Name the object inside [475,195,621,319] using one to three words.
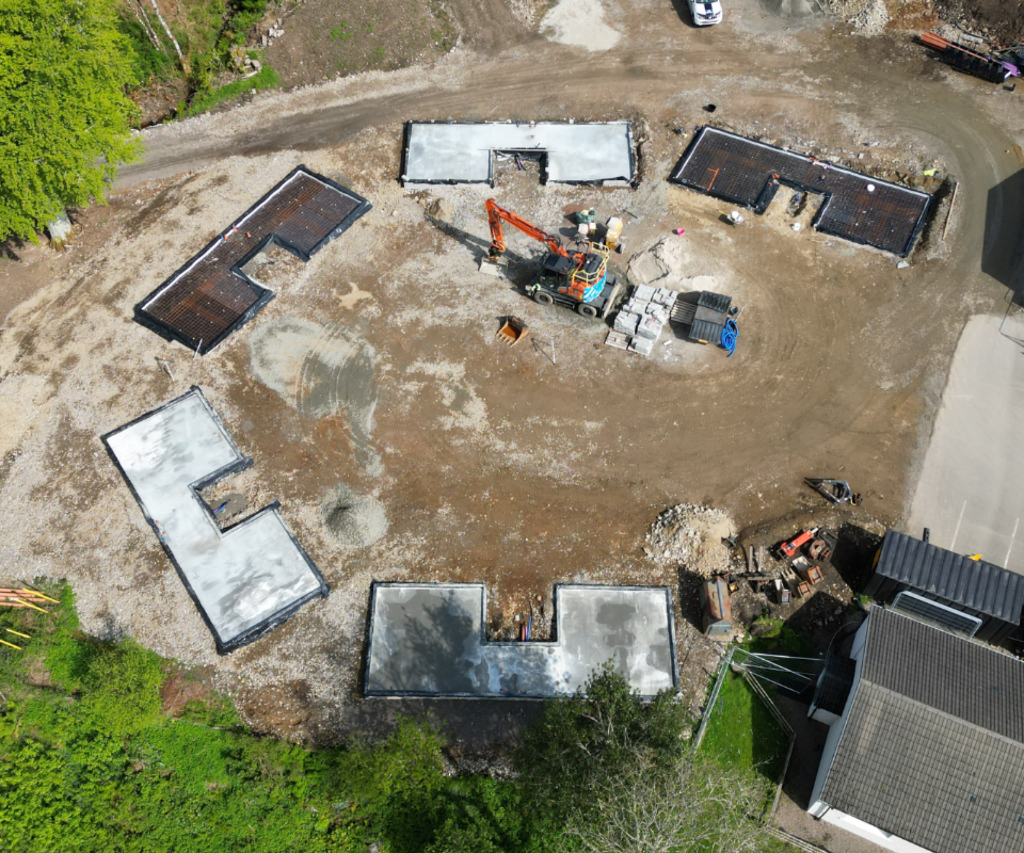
work vehicle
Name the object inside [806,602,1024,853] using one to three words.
house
